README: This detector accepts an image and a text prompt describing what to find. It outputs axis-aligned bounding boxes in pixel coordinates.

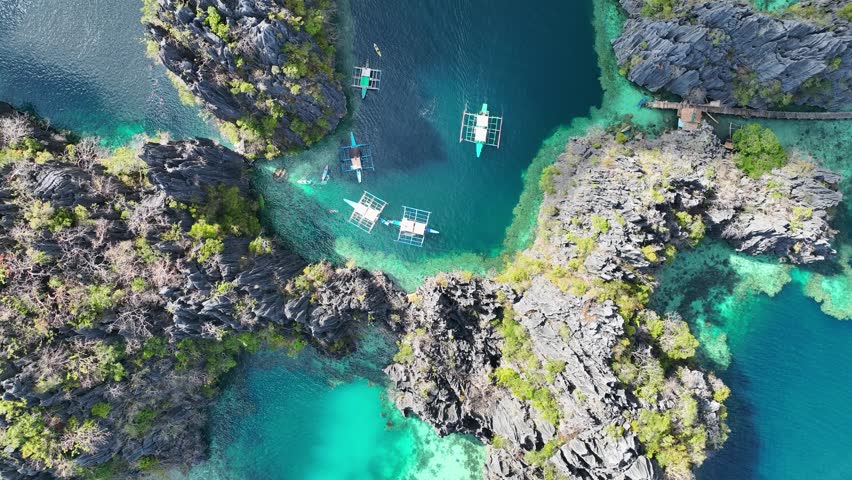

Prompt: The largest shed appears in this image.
[673,111,703,132]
